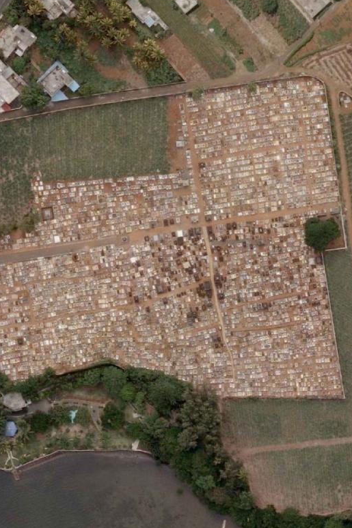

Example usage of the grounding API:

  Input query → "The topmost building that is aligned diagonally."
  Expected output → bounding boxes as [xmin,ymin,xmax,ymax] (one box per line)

[125,0,168,29]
